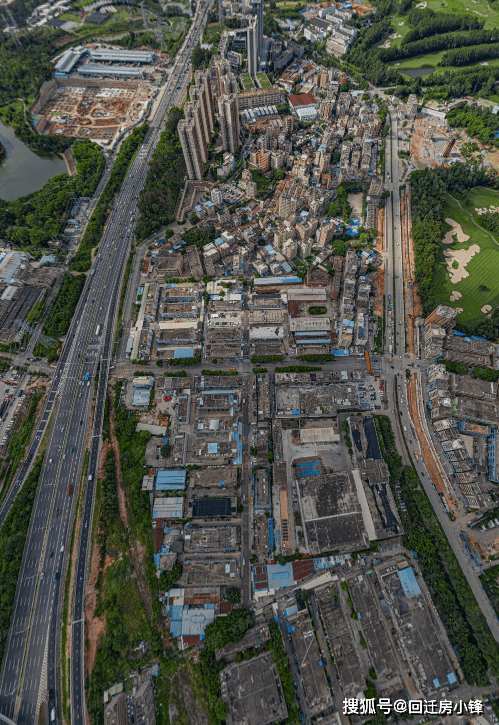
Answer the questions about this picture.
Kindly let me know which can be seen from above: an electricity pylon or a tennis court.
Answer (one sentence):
Looking from above, you can make out an electricity pylon.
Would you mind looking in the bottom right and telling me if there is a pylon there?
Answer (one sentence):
No, I can find no pylon in the bottom right.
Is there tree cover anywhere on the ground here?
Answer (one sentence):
Yes, some tree cover is visible.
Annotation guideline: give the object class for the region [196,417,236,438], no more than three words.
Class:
building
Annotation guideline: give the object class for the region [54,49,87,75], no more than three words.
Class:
shed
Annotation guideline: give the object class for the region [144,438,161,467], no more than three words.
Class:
building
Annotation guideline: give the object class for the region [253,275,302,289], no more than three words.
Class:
shed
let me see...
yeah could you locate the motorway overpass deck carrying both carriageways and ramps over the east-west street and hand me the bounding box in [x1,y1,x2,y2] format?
[53,349,111,382]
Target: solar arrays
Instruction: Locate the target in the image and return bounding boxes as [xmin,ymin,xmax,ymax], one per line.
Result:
[193,498,231,515]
